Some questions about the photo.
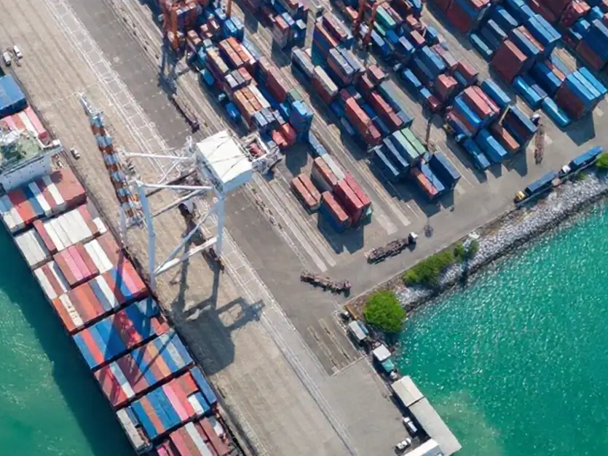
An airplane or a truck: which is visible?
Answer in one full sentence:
The one in the frame is a truck.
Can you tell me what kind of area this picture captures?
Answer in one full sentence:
This looks like a port.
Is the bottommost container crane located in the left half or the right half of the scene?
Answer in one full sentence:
You can find the bottommost container crane on the left side of the picture.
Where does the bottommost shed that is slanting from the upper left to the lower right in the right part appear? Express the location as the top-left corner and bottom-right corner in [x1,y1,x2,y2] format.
[404,396,464,456]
